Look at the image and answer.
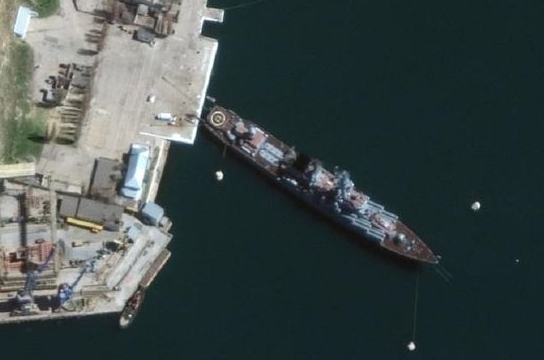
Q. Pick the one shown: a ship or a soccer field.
ship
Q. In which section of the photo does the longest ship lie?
center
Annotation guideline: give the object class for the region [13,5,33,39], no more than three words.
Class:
building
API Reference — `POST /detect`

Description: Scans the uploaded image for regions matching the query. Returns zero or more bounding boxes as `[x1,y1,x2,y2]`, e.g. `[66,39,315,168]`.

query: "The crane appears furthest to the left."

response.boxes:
[18,254,55,317]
